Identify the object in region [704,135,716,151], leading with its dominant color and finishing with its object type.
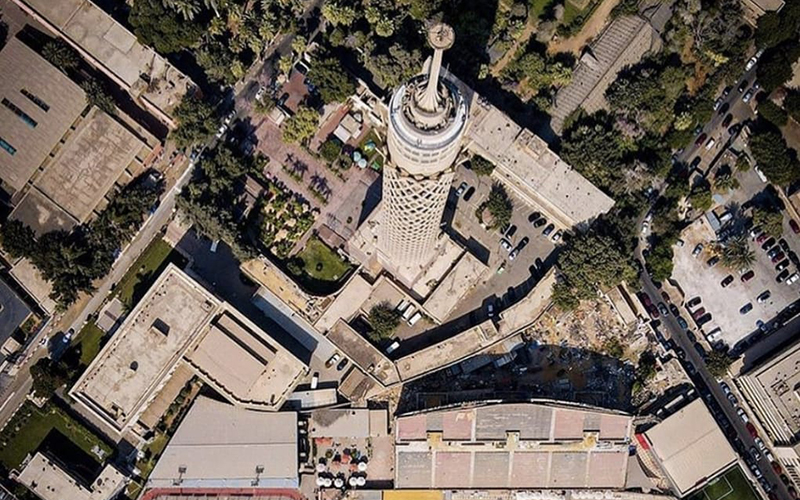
white vehicle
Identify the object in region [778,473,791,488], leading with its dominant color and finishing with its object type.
black vehicle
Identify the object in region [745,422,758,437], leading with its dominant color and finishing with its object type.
red vehicle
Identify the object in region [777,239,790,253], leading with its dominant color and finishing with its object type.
black vehicle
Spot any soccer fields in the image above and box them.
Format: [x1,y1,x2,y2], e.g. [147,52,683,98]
[684,466,762,500]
